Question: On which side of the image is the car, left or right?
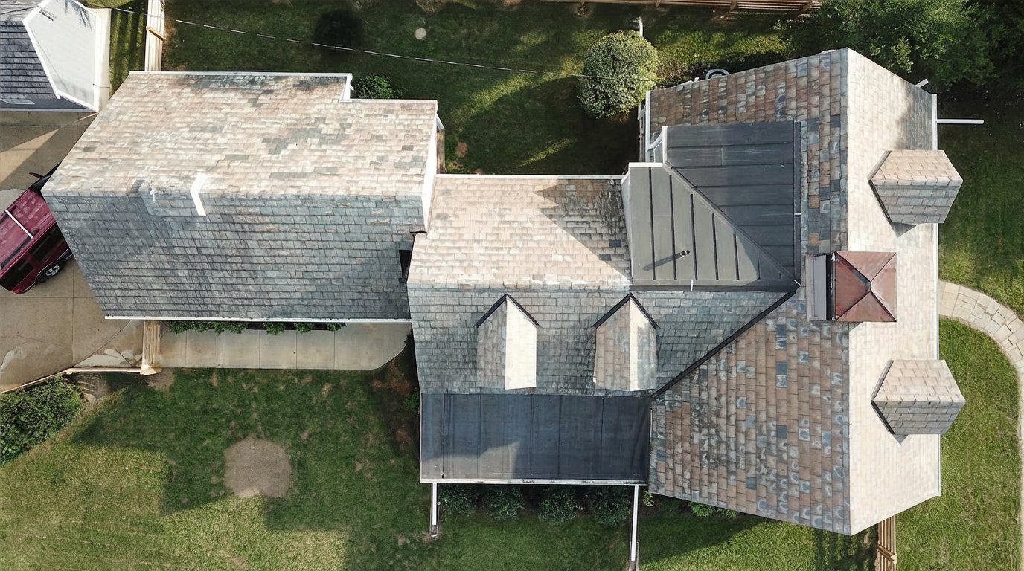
left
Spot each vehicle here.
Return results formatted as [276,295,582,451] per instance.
[0,177,70,291]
